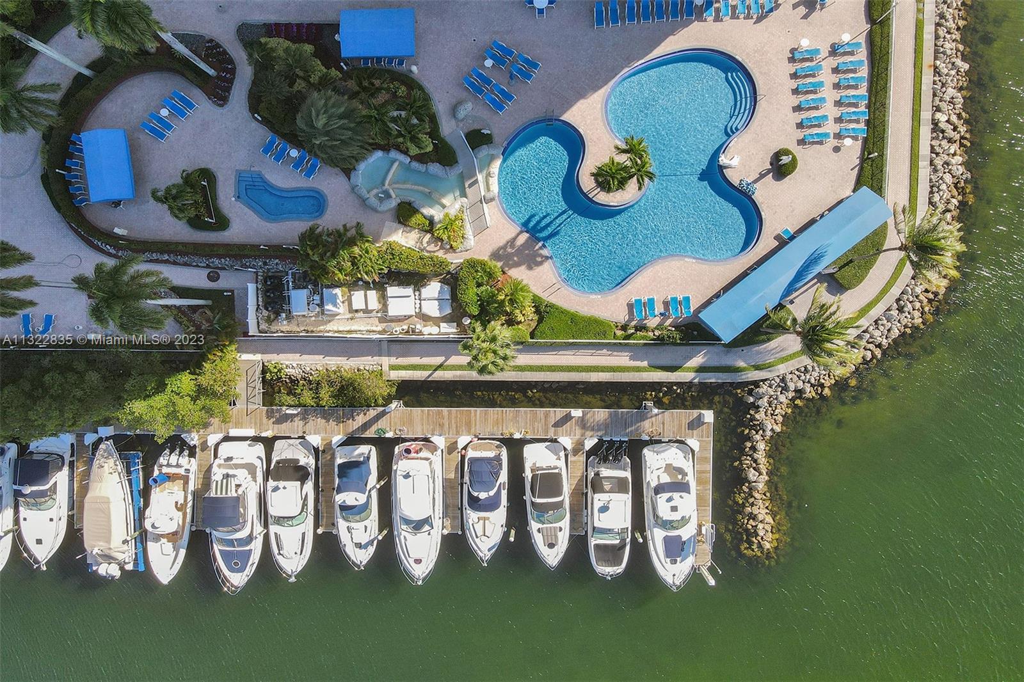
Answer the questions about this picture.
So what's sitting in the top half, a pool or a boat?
pool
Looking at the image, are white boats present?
Yes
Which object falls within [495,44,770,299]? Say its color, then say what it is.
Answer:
blue swimming pool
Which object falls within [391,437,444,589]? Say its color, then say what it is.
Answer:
white boat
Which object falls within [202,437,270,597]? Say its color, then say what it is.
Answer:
white boat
